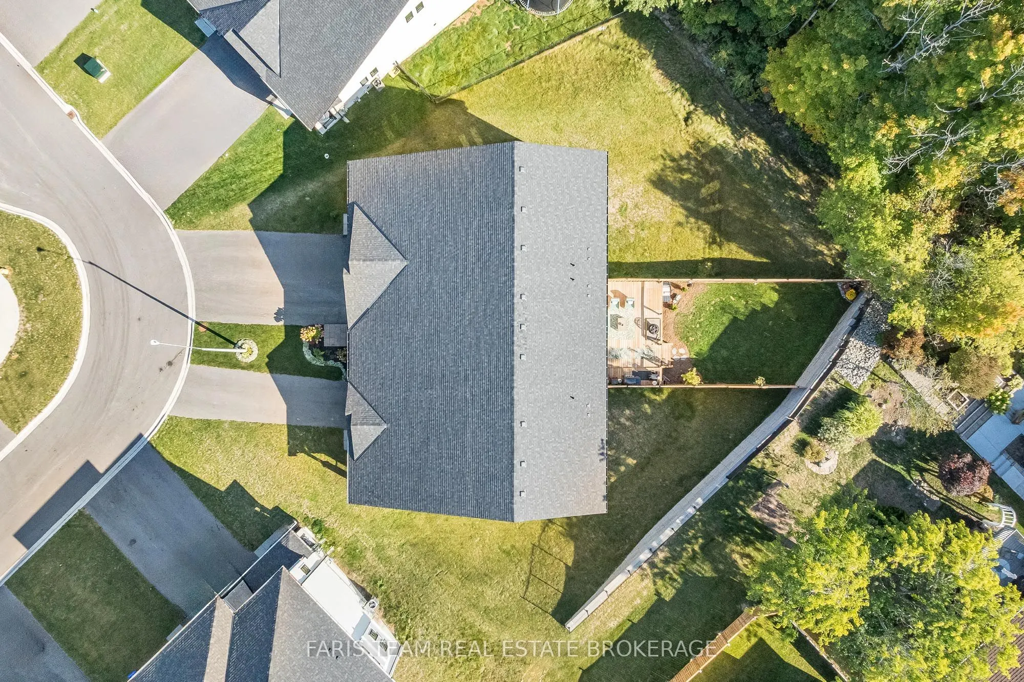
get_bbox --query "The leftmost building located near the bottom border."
[121,514,404,682]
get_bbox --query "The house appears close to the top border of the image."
[192,0,471,137]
